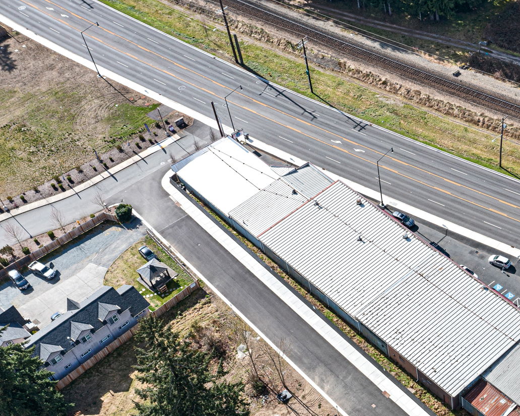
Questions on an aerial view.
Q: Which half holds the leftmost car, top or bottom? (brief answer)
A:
bottom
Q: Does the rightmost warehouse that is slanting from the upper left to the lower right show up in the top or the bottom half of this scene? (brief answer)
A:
bottom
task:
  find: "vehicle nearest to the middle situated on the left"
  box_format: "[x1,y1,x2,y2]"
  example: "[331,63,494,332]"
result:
[137,244,158,262]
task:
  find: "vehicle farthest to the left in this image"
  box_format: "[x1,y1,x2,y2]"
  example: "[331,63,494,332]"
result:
[7,268,31,290]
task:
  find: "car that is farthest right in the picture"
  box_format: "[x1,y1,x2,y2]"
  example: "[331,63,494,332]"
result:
[488,255,513,270]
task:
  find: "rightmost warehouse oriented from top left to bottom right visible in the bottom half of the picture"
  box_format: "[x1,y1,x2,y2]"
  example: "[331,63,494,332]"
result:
[260,179,520,411]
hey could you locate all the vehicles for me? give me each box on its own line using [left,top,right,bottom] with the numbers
[391,211,416,230]
[7,268,31,290]
[488,255,513,270]
[25,259,56,280]
[137,244,158,262]
[428,240,450,258]
[44,309,67,325]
